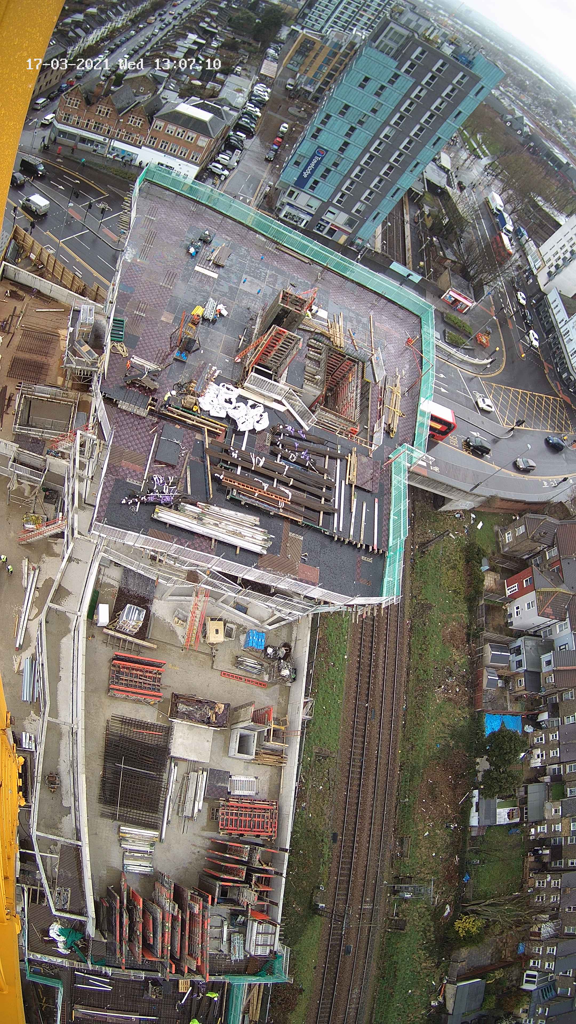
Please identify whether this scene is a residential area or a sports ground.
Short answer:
residential area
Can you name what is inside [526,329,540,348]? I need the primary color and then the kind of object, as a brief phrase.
white car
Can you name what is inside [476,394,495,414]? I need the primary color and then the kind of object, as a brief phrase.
white car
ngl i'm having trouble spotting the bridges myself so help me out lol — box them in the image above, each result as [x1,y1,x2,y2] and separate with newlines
[400,469,494,519]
